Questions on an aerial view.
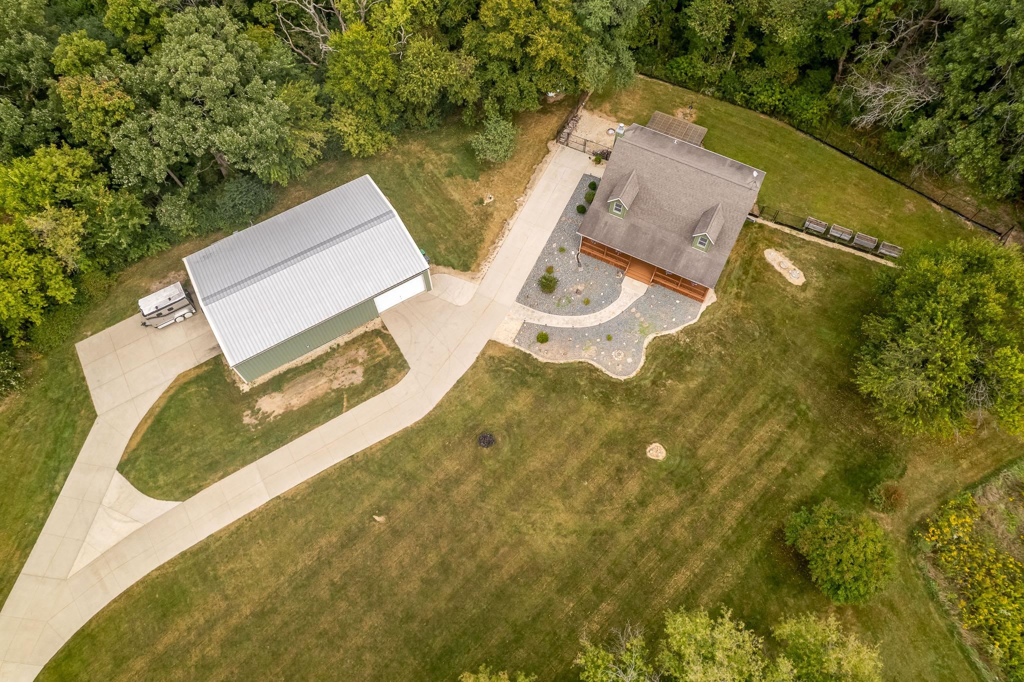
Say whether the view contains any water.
No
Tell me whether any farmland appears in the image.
No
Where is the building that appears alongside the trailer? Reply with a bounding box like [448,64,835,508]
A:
[181,174,433,384]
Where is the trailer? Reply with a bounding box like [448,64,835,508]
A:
[139,282,196,325]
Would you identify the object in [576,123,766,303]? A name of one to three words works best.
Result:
house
